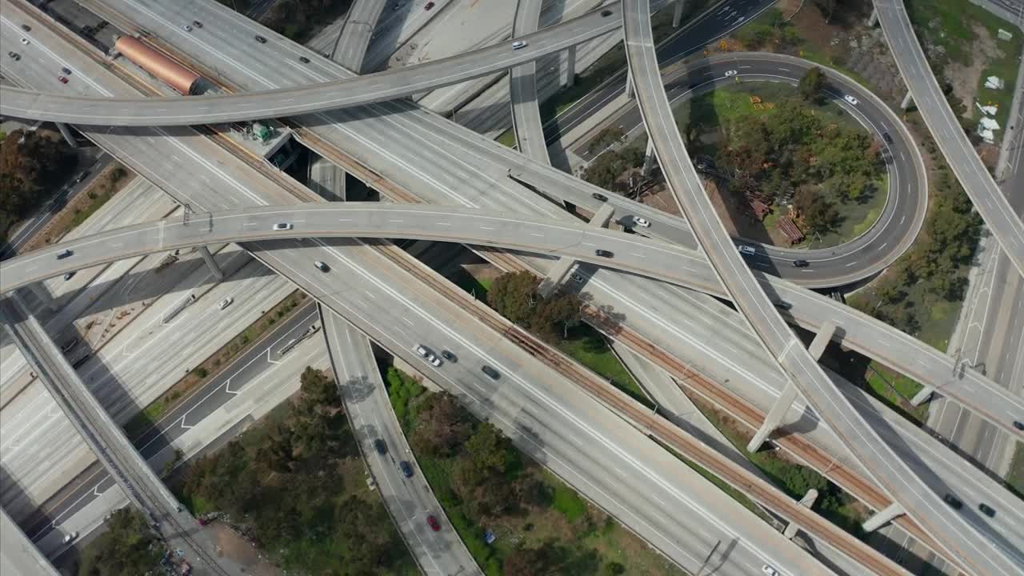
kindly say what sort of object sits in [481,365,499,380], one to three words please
car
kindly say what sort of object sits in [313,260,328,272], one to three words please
vehicle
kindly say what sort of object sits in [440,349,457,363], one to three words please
car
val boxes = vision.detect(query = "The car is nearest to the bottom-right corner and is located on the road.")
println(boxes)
[975,500,1000,518]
